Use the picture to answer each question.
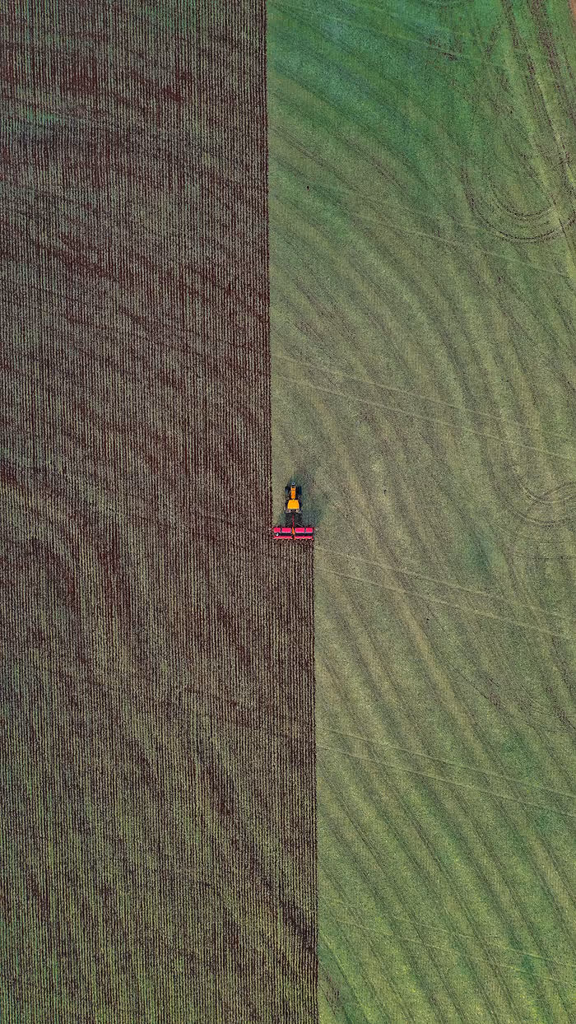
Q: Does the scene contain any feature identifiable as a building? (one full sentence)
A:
No, the scene contains no building.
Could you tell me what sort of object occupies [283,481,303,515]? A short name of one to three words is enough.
work vehicle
